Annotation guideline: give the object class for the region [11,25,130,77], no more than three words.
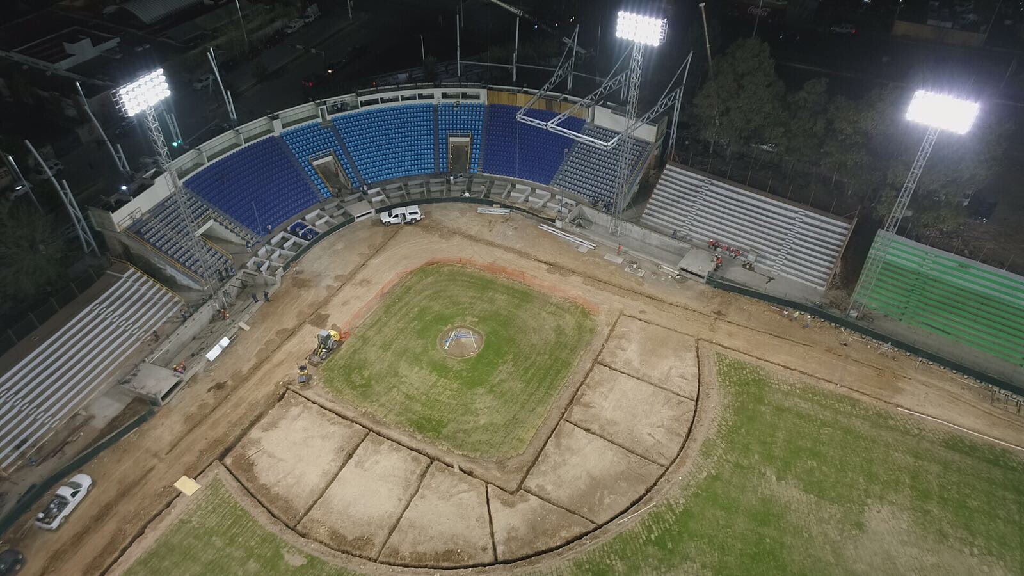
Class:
house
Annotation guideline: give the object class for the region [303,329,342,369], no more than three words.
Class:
work vehicle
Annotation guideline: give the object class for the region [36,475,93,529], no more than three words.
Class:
truck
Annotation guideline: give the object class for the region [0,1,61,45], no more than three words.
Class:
house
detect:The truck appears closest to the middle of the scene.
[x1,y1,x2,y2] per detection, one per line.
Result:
[378,202,421,225]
